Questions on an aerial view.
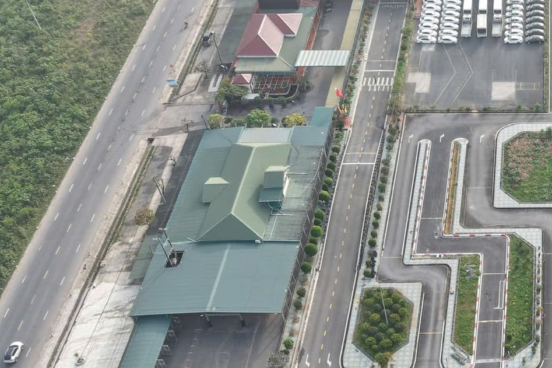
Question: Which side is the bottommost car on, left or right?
left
